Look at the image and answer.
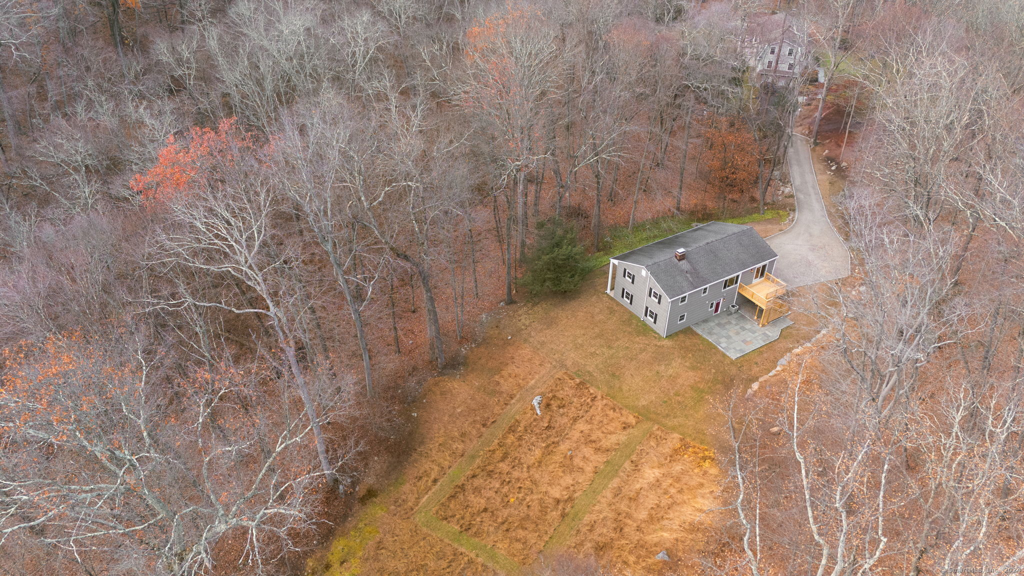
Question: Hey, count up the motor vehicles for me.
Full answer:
There are no motor vehicles in the image.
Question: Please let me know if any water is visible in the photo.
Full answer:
No, water can't be seen anywhere here.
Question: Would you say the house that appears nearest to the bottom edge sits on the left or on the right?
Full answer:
The house that appears nearest to the bottom edge sits on the right side.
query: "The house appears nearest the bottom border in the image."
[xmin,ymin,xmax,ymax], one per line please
[607,222,779,335]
